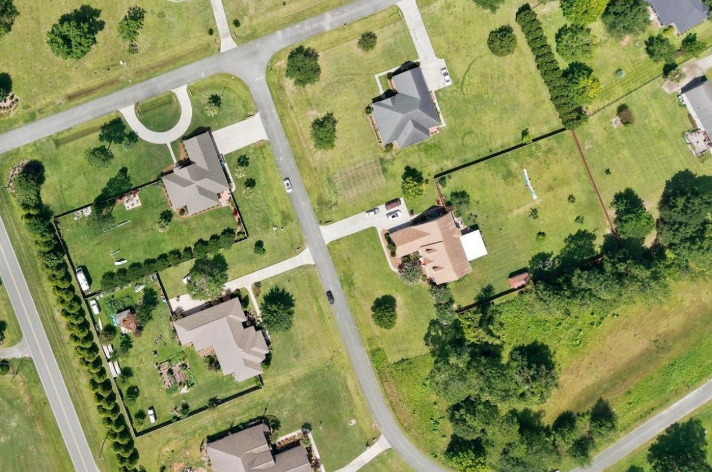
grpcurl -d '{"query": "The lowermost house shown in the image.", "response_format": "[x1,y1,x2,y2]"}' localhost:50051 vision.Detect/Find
[207,422,311,472]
